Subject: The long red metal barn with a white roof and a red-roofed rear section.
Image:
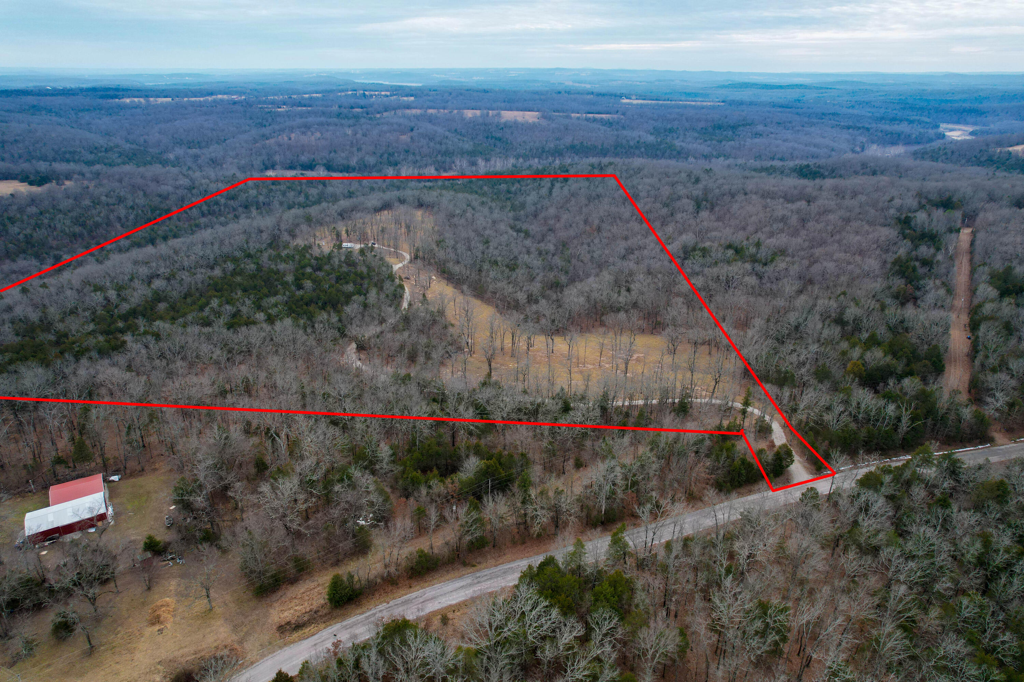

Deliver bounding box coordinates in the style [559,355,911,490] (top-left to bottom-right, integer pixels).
[23,475,109,546]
